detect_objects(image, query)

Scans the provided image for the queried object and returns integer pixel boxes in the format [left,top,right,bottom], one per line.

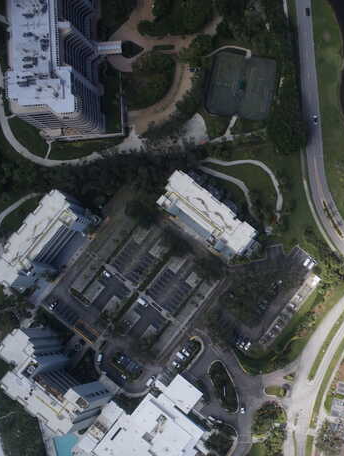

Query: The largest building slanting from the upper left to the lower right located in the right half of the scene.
[155,169,266,253]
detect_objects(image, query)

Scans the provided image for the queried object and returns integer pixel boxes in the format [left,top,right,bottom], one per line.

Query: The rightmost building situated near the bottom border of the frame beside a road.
[77,371,209,456]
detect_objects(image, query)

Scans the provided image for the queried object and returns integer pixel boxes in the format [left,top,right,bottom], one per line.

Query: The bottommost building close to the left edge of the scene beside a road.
[0,323,115,435]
